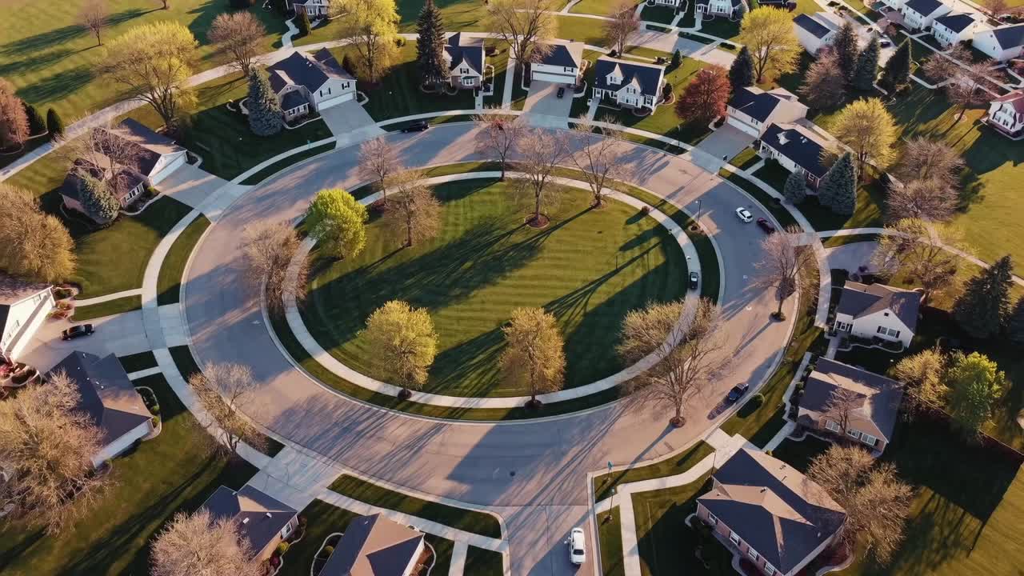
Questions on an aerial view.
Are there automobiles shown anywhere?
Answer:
Yes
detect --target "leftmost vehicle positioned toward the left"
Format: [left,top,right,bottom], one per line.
[61,322,94,338]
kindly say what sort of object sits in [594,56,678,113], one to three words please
house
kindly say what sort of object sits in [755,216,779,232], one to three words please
car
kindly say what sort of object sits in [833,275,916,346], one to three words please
house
